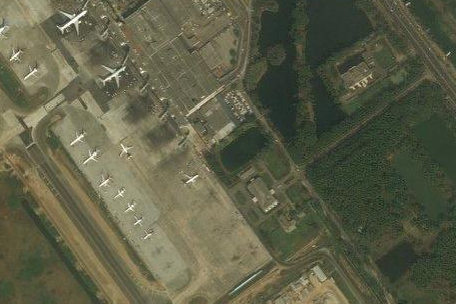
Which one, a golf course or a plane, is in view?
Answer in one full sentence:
Looking from above, you can make out a plane.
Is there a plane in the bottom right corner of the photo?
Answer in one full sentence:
No, no plane is visible in the bottom right corner of the photo.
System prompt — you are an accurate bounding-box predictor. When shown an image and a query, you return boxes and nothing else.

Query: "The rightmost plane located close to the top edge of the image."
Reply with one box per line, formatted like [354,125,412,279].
[57,11,87,36]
